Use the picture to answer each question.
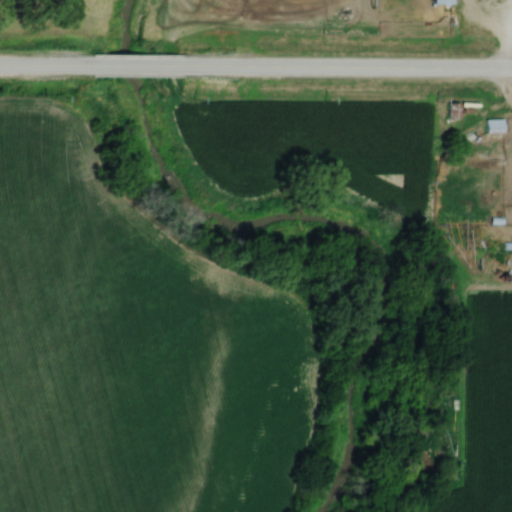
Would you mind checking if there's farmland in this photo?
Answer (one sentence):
Yes, farmland shows up in the scene.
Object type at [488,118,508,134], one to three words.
shed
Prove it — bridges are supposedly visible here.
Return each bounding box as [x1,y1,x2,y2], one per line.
[96,55,186,78]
